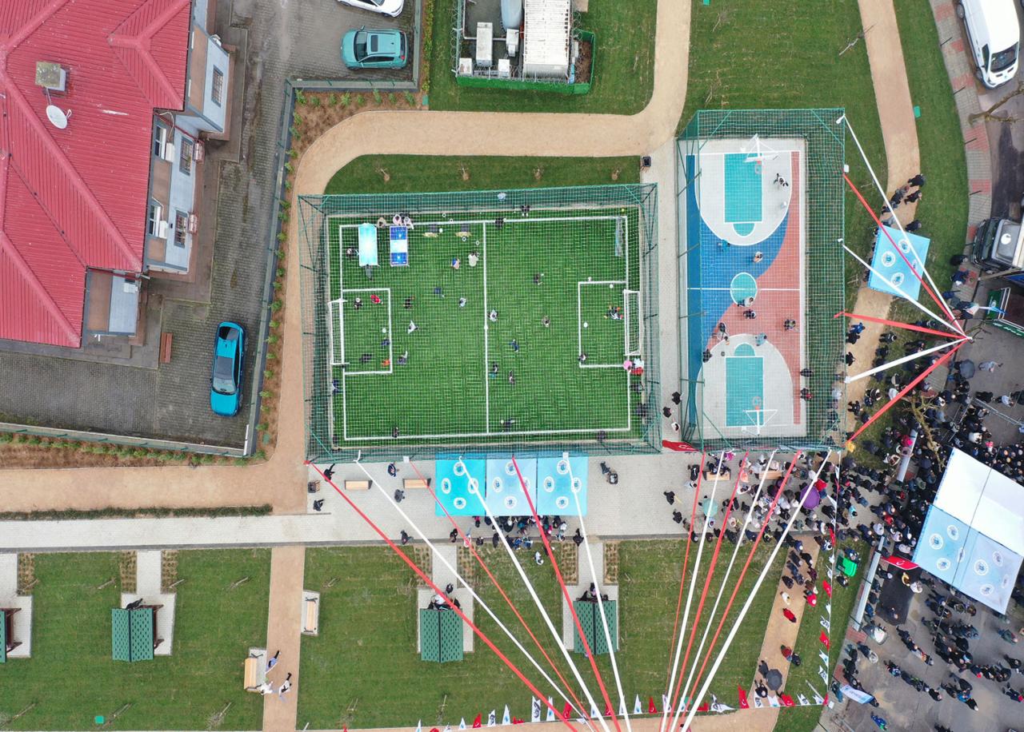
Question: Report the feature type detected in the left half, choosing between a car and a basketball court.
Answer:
car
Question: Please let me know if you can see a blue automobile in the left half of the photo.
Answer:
Yes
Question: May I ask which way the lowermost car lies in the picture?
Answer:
vertically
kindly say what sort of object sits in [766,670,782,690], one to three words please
umbrella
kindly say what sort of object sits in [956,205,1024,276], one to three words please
truck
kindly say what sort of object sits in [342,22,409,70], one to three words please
car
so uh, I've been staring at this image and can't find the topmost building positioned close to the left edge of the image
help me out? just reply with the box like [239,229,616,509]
[0,0,238,350]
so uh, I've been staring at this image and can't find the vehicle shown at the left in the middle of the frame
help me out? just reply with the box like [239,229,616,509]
[206,320,245,416]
